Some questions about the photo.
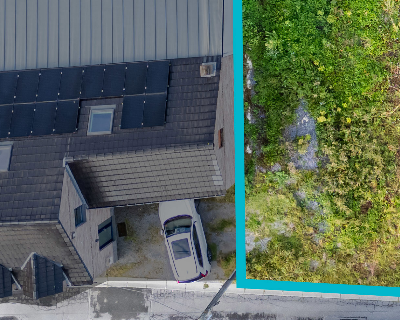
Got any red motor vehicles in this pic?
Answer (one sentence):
No, no red motor vehicle is visible in the view.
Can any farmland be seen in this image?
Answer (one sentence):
No, there's no farmland in this view.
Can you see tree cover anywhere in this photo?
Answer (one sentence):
No, no tree cover is visible.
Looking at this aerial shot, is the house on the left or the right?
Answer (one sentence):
You can find the house on the left side of the picture.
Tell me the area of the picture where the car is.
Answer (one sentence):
You can find the car in the bottom area of the picture.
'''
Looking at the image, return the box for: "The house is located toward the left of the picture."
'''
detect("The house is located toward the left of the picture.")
[0,0,242,301]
